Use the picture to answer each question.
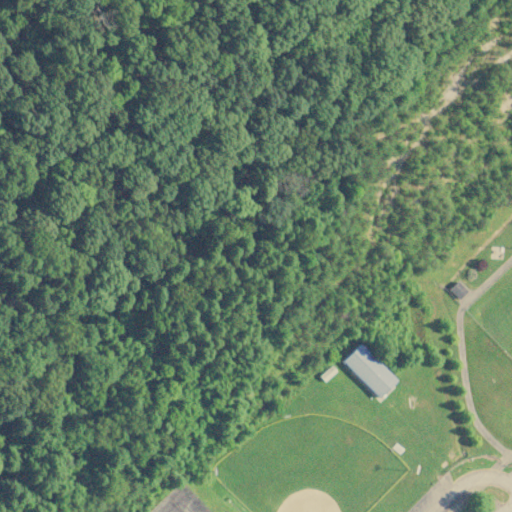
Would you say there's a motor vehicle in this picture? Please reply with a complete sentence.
No, the photo shows no motor vehicle.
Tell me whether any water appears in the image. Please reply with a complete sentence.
No, there's no water in this view.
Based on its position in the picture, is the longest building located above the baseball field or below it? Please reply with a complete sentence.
The position of the longest building is above the baseball field.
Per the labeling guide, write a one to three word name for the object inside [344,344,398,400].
building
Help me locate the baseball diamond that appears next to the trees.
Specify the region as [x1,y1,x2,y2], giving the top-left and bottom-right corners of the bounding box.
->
[216,414,410,512]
